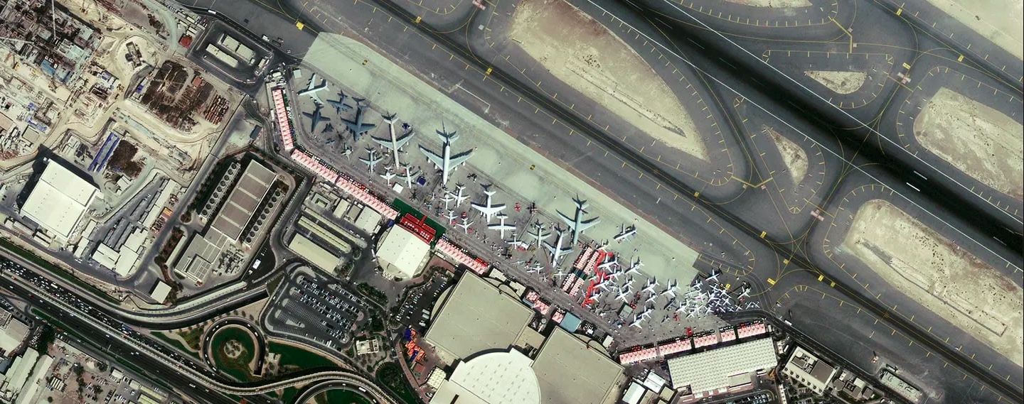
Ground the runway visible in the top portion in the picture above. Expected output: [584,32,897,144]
[586,0,1024,273]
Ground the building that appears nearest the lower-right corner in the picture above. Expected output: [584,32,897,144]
[880,370,922,402]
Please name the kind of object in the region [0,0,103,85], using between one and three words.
building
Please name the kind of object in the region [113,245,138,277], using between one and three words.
shed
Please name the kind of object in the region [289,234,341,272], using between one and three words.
shed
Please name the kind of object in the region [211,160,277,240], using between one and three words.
building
